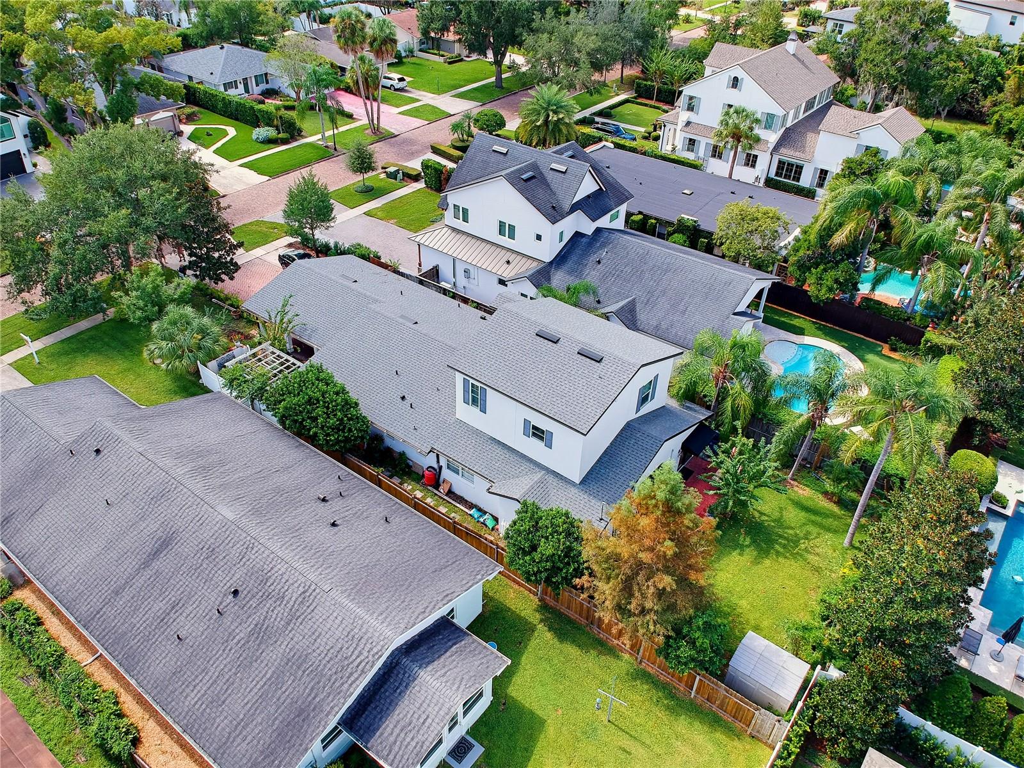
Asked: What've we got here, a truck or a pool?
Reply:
pool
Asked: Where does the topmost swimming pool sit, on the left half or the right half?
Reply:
right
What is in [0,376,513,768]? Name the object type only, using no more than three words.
house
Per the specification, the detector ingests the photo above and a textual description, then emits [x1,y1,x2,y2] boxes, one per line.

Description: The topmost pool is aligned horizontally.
[852,260,958,311]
